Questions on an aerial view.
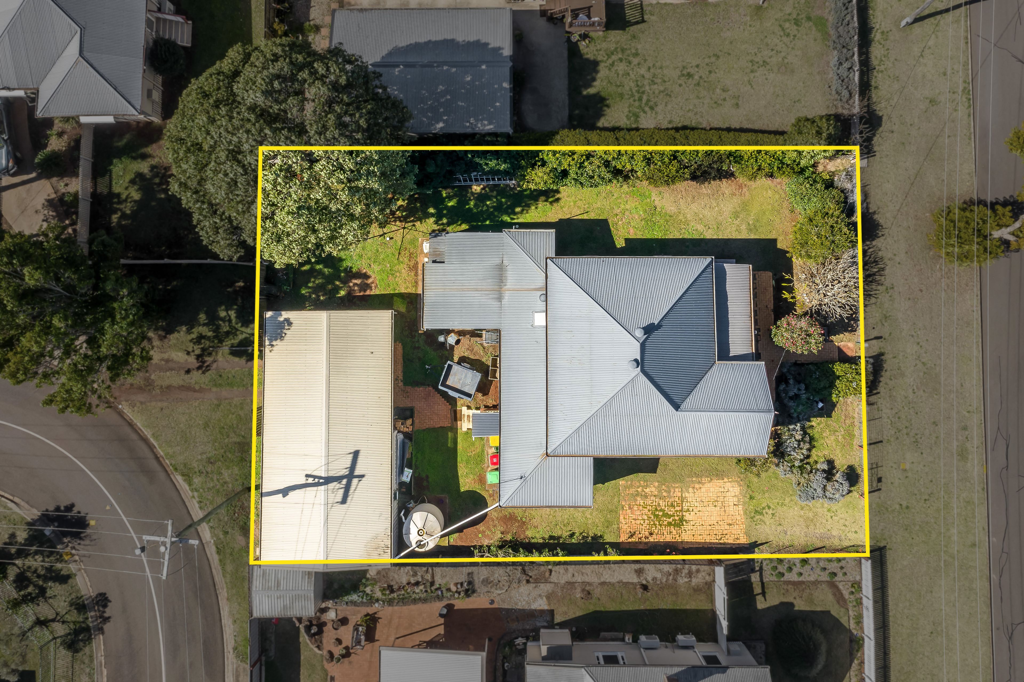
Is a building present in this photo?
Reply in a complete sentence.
Yes, I can see a building in this picture.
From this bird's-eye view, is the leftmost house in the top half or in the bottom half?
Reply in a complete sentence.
Seen from above, the leftmost house lies in the top half of the view.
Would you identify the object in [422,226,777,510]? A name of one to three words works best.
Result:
house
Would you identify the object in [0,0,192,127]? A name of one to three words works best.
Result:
house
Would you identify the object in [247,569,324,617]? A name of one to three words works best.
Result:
shed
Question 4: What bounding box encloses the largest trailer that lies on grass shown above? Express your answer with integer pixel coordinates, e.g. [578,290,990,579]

[421,358,482,403]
